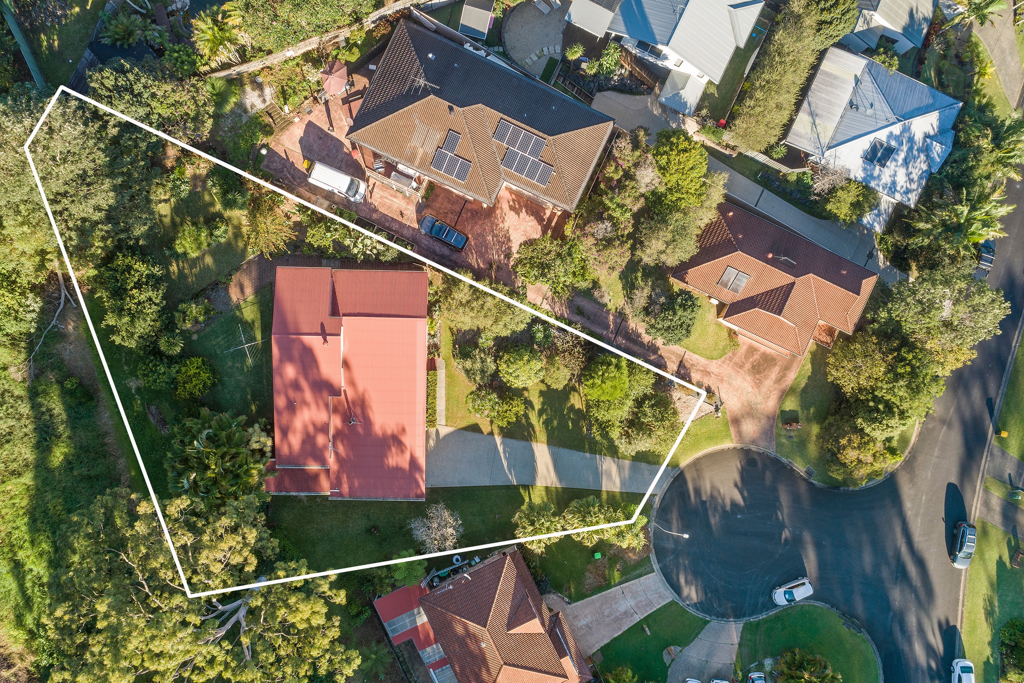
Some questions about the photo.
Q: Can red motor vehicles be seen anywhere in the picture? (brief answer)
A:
No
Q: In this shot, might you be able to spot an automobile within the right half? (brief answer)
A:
Yes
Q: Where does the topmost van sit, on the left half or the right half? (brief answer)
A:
left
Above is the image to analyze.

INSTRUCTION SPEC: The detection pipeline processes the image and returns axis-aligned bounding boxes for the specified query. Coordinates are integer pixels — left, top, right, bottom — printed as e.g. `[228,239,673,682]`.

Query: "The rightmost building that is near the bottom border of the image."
[417,548,594,683]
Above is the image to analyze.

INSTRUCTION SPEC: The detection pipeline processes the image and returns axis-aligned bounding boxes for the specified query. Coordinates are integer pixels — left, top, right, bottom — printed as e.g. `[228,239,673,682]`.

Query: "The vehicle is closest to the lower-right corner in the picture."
[950,655,976,683]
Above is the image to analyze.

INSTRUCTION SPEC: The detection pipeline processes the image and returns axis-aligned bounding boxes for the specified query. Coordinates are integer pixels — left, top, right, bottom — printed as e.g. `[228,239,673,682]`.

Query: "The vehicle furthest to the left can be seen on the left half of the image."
[307,160,365,202]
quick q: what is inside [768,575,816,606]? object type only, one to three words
car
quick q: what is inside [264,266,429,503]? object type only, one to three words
house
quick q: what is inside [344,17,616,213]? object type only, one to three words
house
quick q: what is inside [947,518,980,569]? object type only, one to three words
car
